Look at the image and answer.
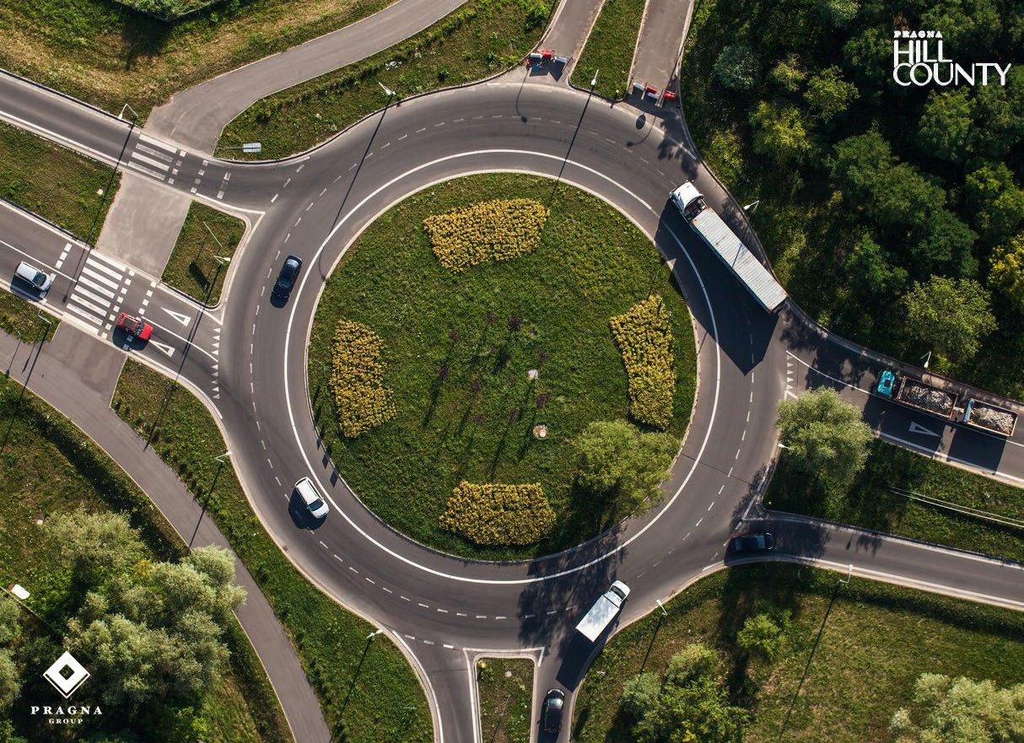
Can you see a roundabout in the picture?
Yes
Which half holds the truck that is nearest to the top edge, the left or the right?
right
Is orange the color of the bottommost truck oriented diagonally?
No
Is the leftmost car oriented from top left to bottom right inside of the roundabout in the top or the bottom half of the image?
bottom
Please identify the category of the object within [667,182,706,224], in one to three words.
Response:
truck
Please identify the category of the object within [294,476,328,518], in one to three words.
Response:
car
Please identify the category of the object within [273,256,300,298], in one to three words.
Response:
car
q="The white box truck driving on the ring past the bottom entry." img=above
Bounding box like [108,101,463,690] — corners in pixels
[573,583,626,643]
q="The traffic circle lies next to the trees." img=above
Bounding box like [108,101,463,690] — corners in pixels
[220,85,787,650]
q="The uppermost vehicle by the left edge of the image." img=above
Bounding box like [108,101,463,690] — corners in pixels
[13,261,52,289]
